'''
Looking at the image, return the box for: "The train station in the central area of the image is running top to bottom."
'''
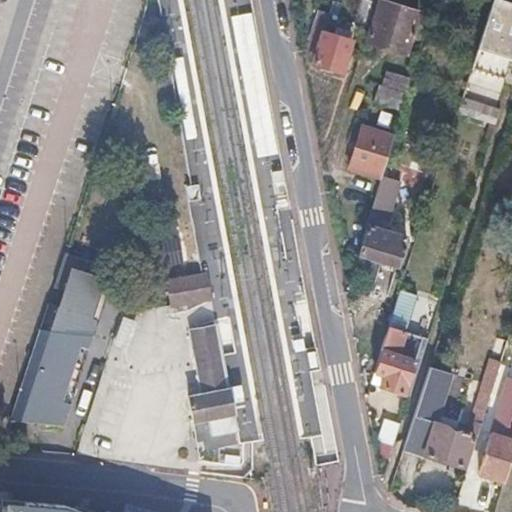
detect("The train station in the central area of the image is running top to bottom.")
[161,0,321,443]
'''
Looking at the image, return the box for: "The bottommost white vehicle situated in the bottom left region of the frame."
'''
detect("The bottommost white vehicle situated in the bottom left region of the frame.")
[93,436,114,450]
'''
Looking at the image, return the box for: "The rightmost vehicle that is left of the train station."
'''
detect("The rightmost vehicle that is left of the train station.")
[147,148,160,176]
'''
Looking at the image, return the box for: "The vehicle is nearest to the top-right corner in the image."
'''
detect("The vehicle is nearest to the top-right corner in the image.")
[350,88,364,111]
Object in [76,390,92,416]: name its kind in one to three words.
vehicle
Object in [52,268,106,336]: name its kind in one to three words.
building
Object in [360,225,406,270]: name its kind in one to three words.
house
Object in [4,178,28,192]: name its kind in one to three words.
car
